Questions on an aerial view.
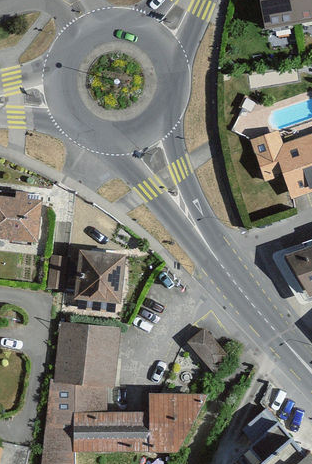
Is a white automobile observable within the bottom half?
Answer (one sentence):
Yes, looking within the bottom half, one can make out a white automobile.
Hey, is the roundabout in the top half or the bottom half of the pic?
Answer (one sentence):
The roundabout is in the top half of the image.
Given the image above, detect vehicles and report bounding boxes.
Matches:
[0,338,23,349]
[144,298,166,314]
[84,224,108,244]
[152,360,168,382]
[148,0,166,10]
[280,398,296,420]
[271,389,287,410]
[290,408,305,432]
[140,306,161,324]
[134,316,154,333]
[114,28,138,42]
[160,270,176,289]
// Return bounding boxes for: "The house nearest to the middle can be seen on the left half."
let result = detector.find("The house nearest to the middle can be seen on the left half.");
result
[74,250,126,304]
